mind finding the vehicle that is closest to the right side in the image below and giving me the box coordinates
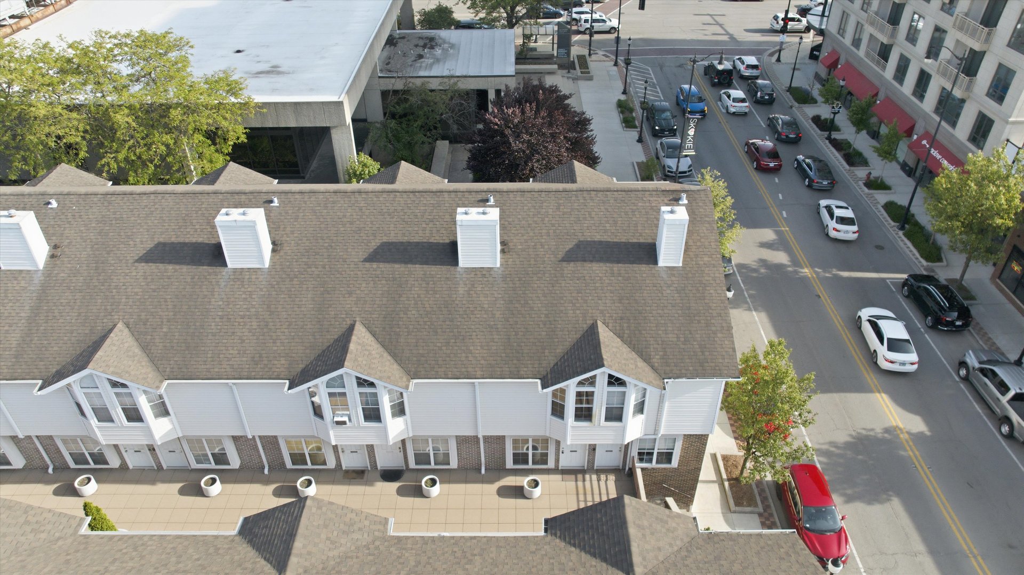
[957,344,1024,444]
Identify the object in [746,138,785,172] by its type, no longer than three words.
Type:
car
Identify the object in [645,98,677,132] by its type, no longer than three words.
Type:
truck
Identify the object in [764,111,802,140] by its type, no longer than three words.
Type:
car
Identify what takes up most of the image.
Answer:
buildings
